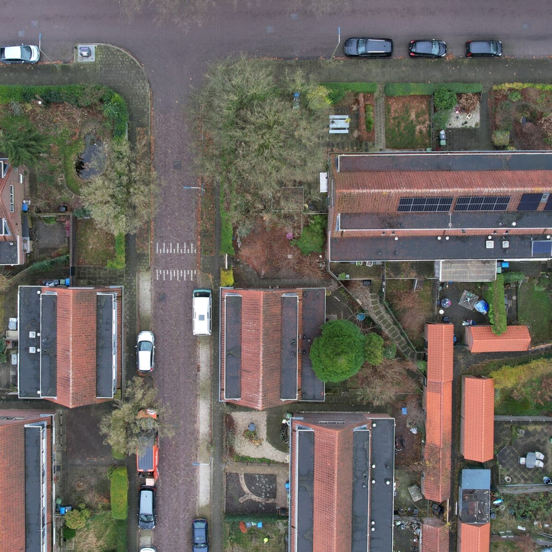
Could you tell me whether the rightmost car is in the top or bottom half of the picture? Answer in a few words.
top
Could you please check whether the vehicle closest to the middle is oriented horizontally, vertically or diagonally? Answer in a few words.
vertically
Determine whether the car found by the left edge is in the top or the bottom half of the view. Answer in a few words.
top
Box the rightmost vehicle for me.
[463,38,502,58]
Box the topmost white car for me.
[1,42,42,64]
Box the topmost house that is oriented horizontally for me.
[327,150,552,260]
